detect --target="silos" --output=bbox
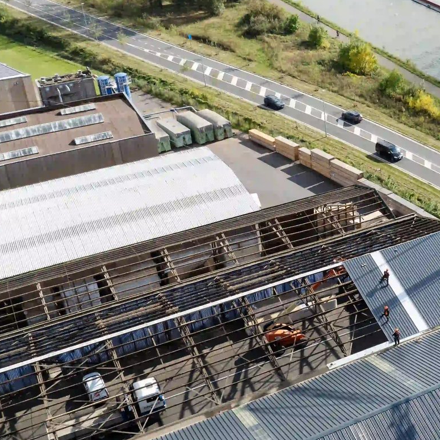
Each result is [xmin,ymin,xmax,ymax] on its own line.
[100,76,121,95]
[118,71,142,108]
